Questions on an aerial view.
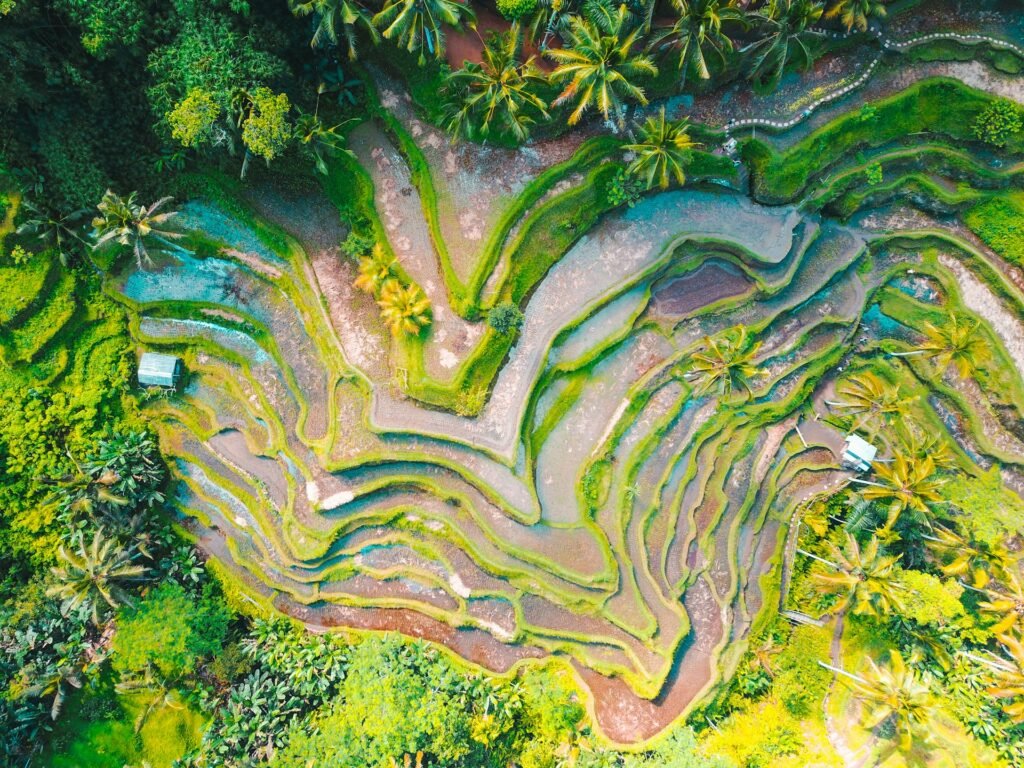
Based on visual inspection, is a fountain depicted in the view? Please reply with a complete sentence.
No, no fountain can be seen from above.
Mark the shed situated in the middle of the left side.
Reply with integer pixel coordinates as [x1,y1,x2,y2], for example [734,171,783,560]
[131,351,183,390]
